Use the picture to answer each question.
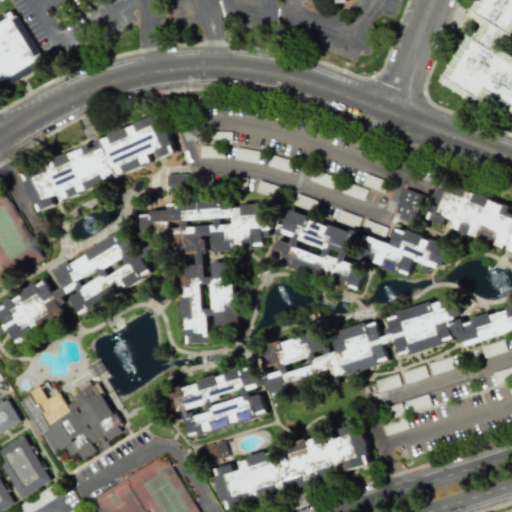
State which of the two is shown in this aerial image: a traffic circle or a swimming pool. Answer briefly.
swimming pool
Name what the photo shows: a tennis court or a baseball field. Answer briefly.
tennis court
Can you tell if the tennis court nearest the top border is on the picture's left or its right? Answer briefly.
left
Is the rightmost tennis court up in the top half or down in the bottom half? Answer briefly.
bottom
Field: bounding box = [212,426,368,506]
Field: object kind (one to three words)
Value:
building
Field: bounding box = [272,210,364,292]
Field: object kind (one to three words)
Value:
building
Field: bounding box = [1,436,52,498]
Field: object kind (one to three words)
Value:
house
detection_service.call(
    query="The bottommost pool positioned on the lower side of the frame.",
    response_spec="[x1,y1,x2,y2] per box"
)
[239,435,264,452]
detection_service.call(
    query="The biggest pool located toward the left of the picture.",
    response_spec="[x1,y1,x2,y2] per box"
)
[39,341,82,376]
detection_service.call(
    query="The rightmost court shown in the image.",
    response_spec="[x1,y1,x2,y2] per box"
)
[128,459,192,512]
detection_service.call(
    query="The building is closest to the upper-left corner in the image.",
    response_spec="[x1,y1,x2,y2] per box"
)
[0,11,41,88]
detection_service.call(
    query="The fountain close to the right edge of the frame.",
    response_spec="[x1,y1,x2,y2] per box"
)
[486,263,512,298]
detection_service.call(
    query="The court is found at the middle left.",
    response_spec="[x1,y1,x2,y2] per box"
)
[0,194,40,272]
